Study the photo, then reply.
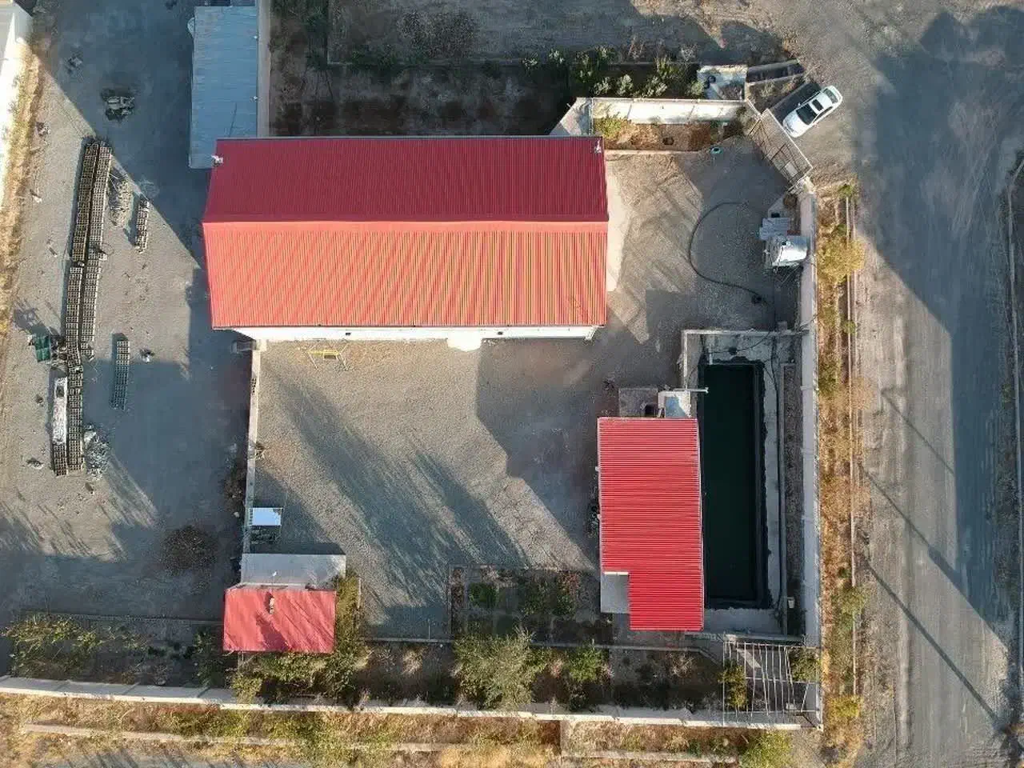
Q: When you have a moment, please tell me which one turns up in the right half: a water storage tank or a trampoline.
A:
water storage tank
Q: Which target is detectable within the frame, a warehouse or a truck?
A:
warehouse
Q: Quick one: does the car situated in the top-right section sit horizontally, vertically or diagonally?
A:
diagonally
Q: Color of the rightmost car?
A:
white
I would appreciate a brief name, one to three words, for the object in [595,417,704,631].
building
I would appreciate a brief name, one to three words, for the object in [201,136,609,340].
warehouse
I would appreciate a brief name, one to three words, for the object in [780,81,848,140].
car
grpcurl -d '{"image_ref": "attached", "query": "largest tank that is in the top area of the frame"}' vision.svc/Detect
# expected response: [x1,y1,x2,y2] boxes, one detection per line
[767,237,808,282]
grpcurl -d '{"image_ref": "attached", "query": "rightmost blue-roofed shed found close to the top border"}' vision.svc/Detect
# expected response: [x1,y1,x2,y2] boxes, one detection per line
[187,6,259,175]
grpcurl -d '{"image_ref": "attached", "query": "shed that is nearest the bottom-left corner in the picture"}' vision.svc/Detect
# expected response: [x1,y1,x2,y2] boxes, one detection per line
[223,549,355,653]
